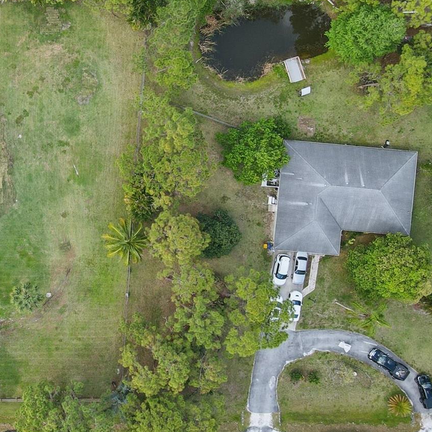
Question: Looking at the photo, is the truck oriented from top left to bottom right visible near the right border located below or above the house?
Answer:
below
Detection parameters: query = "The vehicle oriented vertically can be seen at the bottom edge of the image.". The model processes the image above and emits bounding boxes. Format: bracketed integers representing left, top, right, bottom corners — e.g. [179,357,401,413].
[416,373,432,411]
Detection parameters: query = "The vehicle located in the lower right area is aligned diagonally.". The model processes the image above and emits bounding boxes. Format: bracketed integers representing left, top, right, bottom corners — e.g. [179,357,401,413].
[366,348,411,381]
